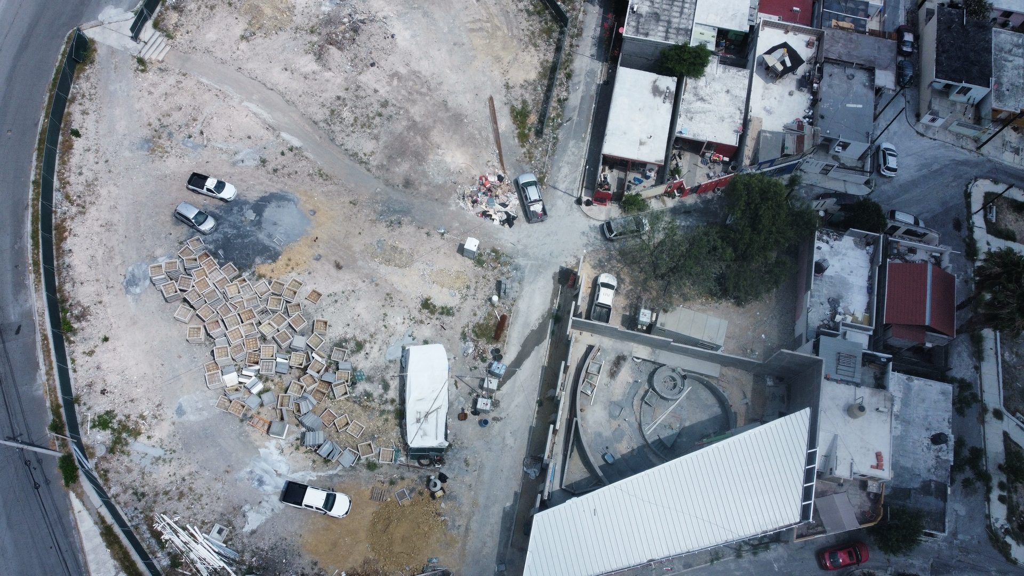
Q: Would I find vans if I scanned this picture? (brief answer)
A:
Yes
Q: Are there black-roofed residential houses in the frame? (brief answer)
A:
Yes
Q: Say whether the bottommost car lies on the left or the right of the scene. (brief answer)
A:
right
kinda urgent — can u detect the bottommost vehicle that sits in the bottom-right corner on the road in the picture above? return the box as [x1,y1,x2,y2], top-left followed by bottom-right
[813,540,871,573]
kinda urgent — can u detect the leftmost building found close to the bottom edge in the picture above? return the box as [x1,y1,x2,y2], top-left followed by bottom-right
[520,408,818,576]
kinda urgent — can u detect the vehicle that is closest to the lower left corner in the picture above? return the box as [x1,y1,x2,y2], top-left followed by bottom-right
[278,479,351,519]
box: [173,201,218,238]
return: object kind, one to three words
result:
car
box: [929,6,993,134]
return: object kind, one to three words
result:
house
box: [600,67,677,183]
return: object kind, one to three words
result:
house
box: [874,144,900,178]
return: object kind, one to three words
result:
car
